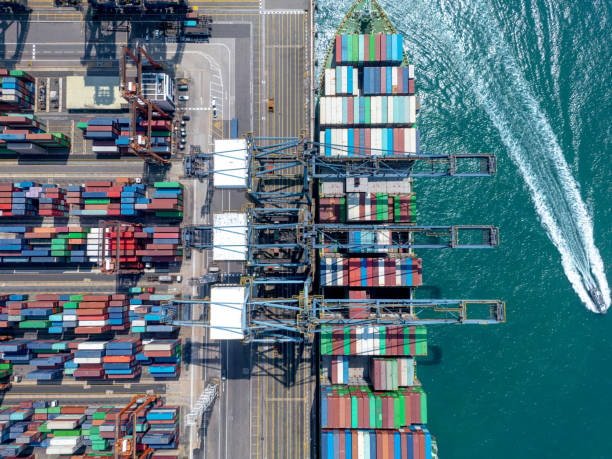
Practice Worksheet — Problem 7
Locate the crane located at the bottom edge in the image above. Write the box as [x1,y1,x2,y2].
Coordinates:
[114,396,159,459]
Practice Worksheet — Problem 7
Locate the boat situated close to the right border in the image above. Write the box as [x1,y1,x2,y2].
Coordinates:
[589,286,605,310]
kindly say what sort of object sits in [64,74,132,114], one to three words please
shed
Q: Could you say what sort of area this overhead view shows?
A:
port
